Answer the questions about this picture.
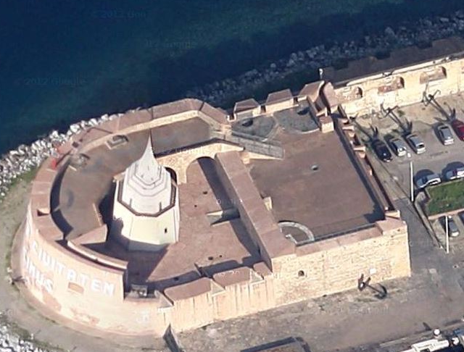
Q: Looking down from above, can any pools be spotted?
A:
No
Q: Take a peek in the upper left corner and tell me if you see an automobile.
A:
No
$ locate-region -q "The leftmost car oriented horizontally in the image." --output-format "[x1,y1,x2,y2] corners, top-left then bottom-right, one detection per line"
[414,171,441,186]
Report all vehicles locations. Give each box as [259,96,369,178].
[441,217,460,238]
[407,133,427,154]
[390,136,408,158]
[414,171,441,186]
[442,164,464,180]
[373,140,391,160]
[435,125,457,146]
[451,120,464,141]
